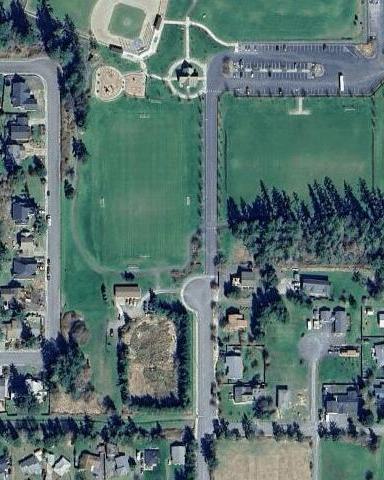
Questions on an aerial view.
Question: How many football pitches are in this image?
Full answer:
The number of football pitches here is 2.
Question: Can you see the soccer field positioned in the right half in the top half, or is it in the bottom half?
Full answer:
Seen from above, the soccer field positioned in the right half lies in the top half of the view.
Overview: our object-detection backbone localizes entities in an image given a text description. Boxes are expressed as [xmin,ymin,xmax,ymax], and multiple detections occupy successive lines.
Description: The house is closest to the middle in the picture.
[233,269,256,287]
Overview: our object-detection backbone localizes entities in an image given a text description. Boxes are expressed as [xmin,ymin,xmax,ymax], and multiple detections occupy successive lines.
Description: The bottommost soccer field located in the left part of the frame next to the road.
[74,100,198,265]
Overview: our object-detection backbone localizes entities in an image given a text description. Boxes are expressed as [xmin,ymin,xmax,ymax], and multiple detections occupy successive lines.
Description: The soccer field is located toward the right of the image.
[227,98,372,210]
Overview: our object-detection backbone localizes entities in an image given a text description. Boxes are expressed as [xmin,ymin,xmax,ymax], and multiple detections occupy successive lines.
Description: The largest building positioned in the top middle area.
[179,71,199,87]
